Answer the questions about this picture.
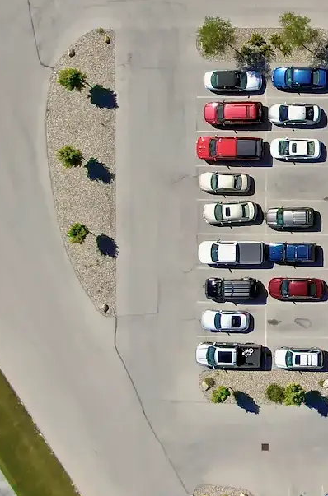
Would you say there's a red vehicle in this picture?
Yes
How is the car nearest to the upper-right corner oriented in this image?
from side to side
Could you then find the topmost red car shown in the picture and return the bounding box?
[204,99,262,126]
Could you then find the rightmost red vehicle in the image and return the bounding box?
[269,276,325,302]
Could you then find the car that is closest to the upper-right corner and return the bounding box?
[272,64,327,92]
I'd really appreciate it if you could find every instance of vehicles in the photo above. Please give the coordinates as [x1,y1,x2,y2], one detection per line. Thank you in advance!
[267,205,314,231]
[269,101,321,127]
[204,66,263,93]
[267,240,319,265]
[202,309,250,335]
[275,347,325,373]
[198,239,265,267]
[271,136,321,162]
[203,200,257,227]
[199,168,250,195]
[272,64,327,92]
[196,133,265,161]
[204,99,262,126]
[196,343,264,372]
[204,277,254,301]
[269,276,325,302]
